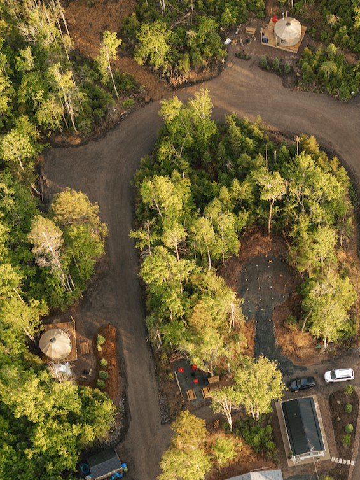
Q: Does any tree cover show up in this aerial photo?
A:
Yes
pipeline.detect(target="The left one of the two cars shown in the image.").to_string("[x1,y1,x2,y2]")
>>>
[289,377,318,394]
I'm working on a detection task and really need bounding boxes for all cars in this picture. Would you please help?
[289,377,318,394]
[324,368,355,383]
